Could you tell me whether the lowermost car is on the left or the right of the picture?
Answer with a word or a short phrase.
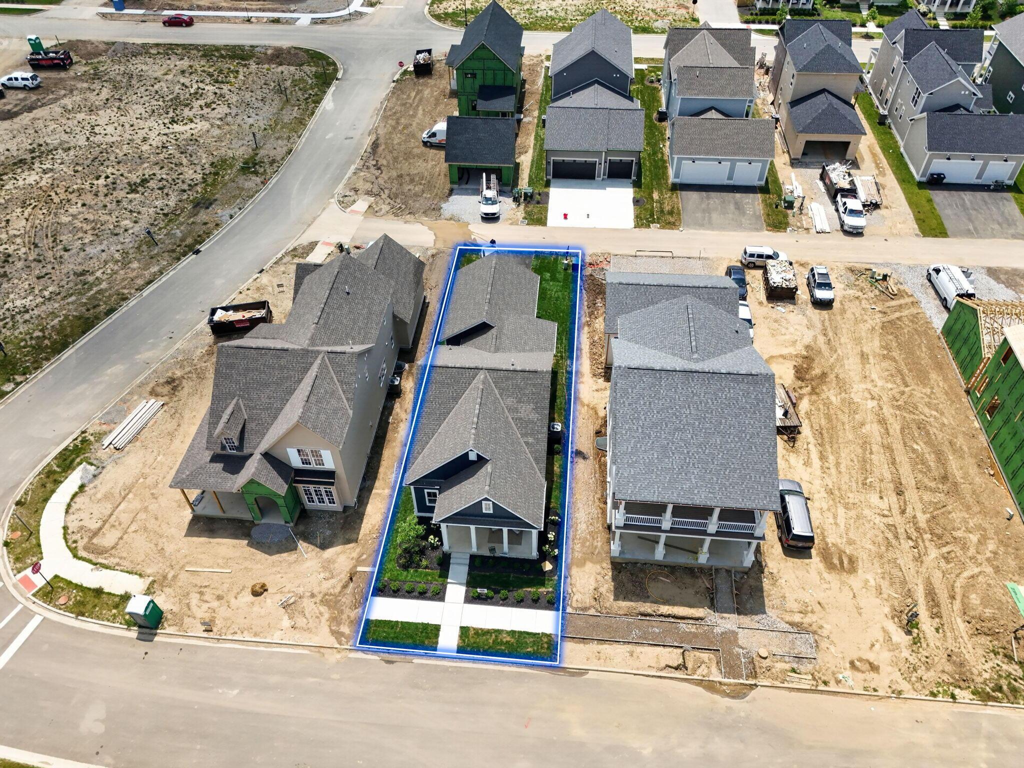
right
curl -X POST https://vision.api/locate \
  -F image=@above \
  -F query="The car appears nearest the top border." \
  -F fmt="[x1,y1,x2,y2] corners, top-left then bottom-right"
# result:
[162,14,195,27]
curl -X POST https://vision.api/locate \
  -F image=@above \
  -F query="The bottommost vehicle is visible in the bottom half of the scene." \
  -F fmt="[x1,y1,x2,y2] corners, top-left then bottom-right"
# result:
[778,479,818,547]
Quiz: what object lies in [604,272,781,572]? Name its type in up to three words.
house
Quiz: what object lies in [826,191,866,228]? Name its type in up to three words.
truck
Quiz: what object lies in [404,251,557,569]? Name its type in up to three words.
house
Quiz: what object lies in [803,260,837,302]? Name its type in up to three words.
car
